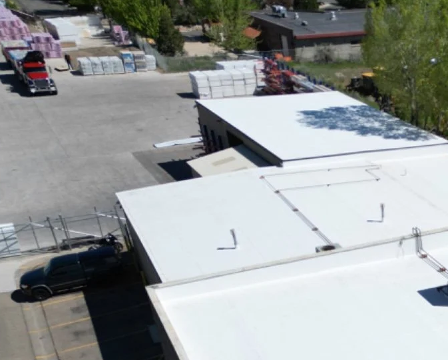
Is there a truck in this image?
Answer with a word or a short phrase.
Yes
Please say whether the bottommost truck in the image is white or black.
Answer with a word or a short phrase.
black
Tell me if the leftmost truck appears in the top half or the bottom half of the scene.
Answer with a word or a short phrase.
top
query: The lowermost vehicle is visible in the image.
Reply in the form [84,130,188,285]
[25,248,142,303]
